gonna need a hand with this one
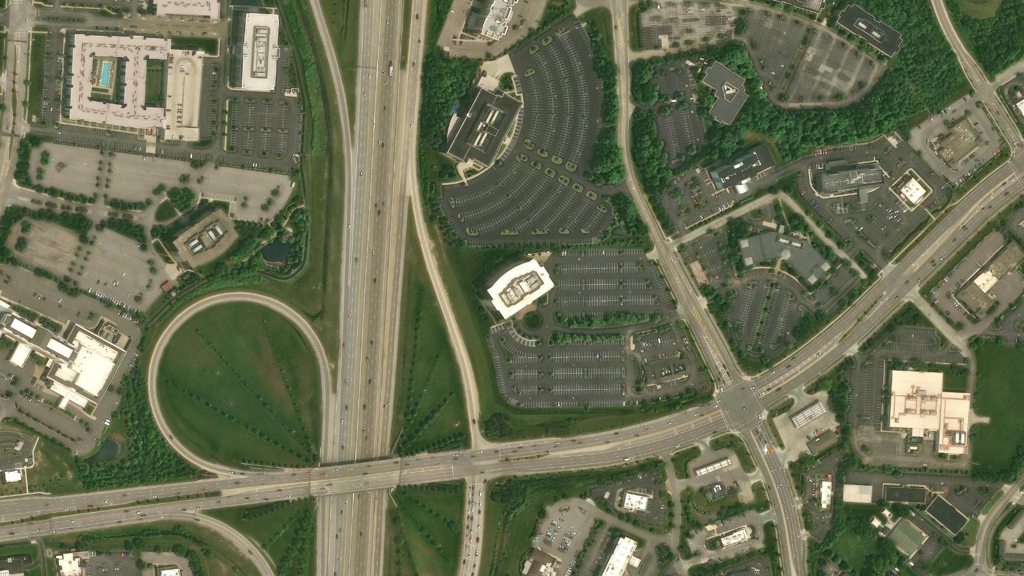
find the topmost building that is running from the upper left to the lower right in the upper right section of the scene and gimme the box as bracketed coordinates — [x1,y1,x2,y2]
[832,4,903,57]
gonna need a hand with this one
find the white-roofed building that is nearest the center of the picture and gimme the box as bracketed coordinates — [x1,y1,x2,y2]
[478,258,555,319]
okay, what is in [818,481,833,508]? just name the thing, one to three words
building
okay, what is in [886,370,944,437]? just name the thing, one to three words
building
